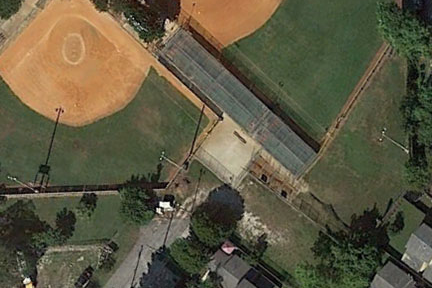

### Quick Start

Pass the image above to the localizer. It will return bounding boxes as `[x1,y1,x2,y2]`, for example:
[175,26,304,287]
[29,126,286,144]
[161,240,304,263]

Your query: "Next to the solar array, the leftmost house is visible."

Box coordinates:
[217,254,252,288]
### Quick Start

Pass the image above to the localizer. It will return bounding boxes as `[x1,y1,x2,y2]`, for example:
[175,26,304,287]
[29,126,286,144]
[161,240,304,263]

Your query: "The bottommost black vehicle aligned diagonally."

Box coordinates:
[75,268,90,285]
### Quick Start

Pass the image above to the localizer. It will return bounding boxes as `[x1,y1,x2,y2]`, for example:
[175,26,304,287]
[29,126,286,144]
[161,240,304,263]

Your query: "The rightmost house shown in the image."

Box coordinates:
[400,221,432,284]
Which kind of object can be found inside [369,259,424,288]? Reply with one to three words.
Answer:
house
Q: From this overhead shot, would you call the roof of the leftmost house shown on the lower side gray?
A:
Yes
